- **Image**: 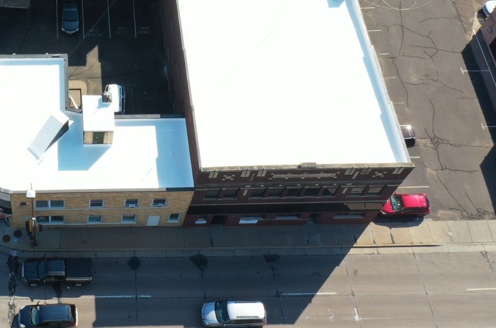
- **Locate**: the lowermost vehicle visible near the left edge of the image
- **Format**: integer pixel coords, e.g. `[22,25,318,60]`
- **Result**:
[15,300,81,328]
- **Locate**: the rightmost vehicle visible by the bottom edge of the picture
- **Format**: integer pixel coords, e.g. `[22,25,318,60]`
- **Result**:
[199,298,271,328]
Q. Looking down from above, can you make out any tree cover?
No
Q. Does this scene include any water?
No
